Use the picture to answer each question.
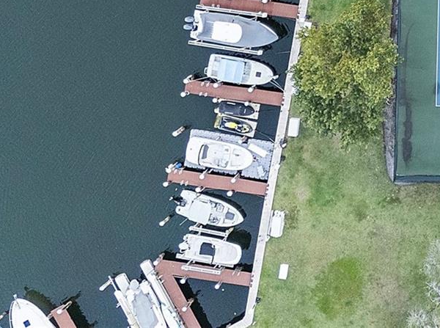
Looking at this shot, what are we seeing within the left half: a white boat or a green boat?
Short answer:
white boat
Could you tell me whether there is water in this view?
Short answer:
Yes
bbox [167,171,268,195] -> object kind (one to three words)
pier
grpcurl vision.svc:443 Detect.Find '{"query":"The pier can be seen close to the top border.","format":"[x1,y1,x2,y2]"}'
[201,0,298,18]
